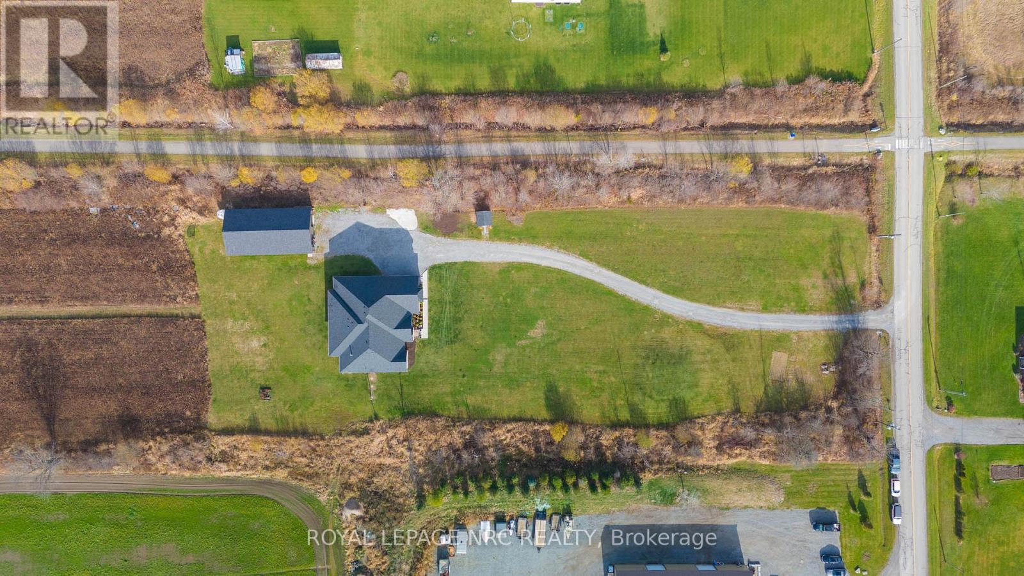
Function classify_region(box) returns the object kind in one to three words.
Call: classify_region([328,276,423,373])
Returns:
house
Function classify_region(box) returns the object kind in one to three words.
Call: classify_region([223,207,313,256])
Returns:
barn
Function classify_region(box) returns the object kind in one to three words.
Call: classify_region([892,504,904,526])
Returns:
vehicle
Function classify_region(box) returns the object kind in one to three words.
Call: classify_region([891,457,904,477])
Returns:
vehicle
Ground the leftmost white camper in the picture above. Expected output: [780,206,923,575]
[223,44,242,72]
